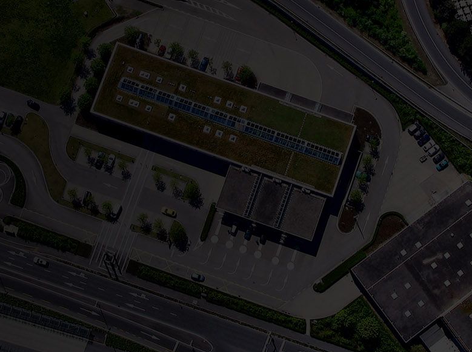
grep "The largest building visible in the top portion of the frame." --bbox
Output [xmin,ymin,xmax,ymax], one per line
[91,42,356,199]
